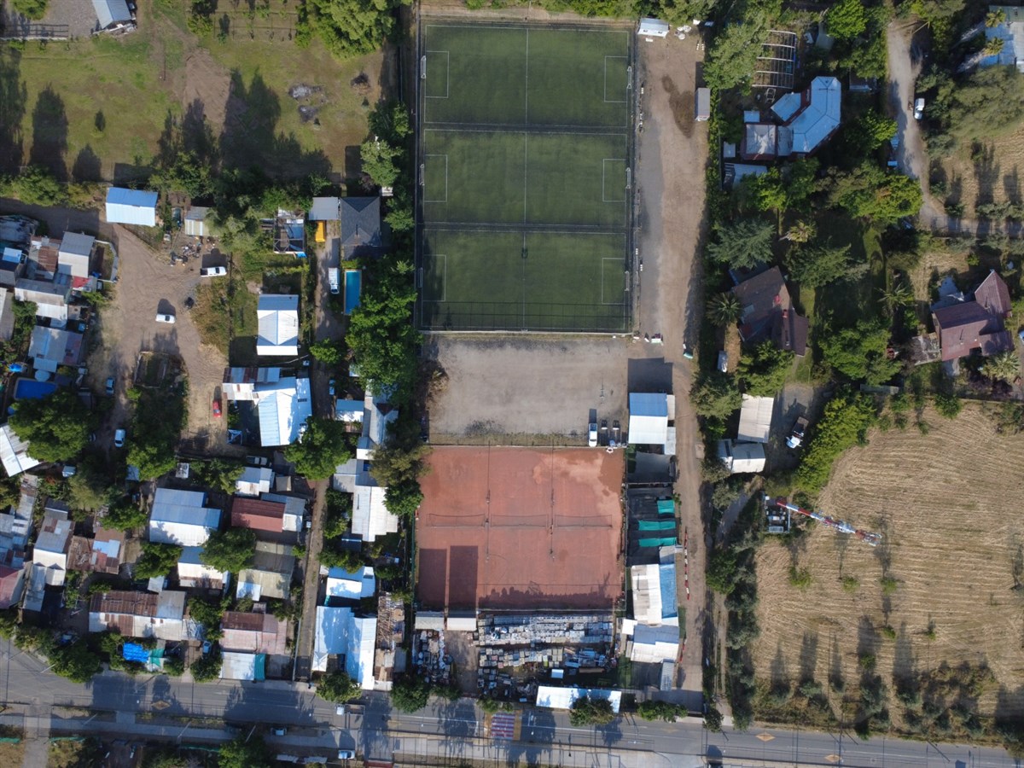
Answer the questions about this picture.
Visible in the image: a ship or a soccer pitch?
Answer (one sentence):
This aerial view contains a soccer pitch.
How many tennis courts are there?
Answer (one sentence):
The picture shows just 1 tennis court.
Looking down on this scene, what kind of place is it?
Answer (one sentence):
The area seen from above is a residential area.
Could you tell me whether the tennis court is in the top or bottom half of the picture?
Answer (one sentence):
The tennis court is in the bottom half of the image.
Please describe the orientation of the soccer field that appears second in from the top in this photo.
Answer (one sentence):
The soccer field that appears second in from the top is oriented from left to right.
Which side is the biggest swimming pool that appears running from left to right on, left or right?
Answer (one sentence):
It is on the left.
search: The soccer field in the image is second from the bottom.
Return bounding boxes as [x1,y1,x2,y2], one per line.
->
[417,124,633,227]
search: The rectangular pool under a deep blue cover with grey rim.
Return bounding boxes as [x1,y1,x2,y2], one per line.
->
[14,378,61,400]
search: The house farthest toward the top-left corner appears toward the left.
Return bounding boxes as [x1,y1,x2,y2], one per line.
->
[92,0,137,31]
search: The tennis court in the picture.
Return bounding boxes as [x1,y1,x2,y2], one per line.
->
[414,446,626,610]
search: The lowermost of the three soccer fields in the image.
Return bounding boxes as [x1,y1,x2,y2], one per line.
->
[416,224,632,331]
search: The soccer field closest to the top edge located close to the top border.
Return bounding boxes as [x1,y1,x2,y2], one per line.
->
[418,22,634,131]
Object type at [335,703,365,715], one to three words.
vehicle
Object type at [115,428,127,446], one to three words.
vehicle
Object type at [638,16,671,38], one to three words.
shed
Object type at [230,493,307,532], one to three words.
house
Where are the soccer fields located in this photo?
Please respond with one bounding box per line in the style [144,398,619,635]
[417,124,633,227]
[416,224,632,331]
[418,22,634,131]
